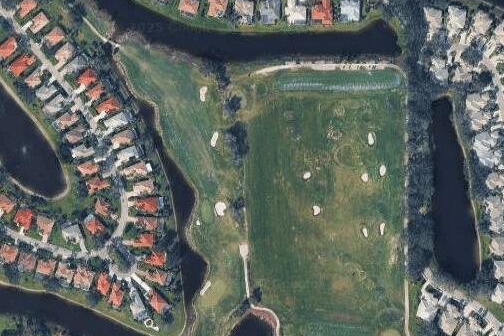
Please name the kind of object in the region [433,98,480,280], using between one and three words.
pond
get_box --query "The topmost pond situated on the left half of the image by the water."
[0,85,64,196]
